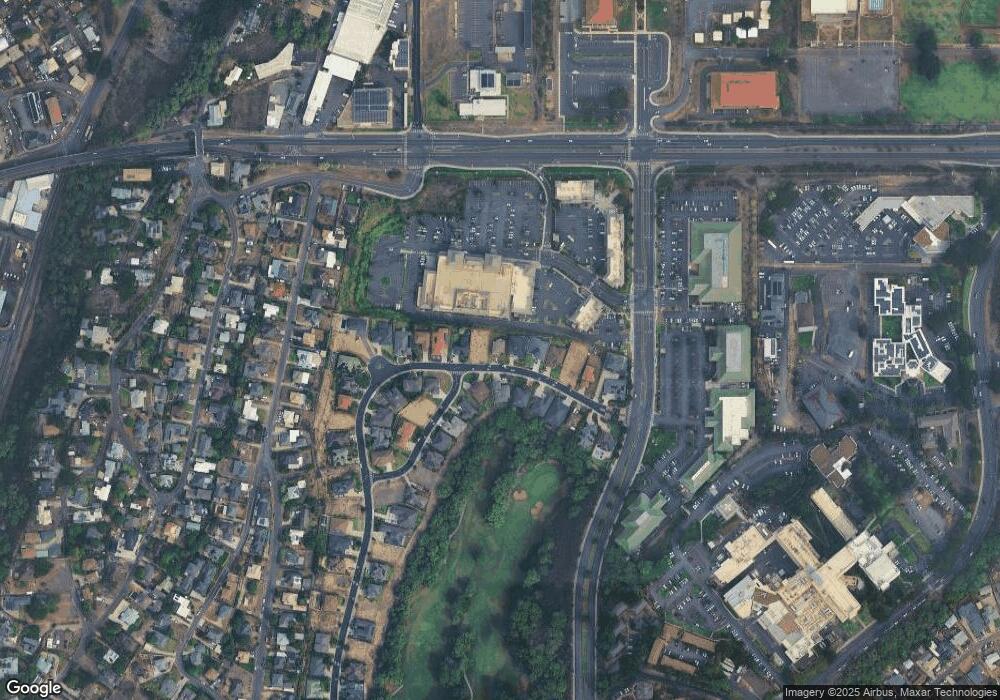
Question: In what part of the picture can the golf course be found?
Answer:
bottom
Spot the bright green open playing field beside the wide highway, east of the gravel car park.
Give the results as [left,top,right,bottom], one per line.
[899,62,1000,121]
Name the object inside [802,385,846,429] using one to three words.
building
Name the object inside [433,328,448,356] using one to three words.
house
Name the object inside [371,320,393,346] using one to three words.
house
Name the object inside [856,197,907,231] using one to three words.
building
